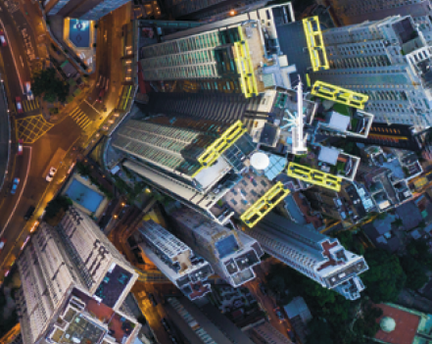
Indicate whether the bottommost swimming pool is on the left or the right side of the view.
left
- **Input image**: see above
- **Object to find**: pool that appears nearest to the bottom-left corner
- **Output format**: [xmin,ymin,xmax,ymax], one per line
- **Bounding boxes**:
[64,177,102,213]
